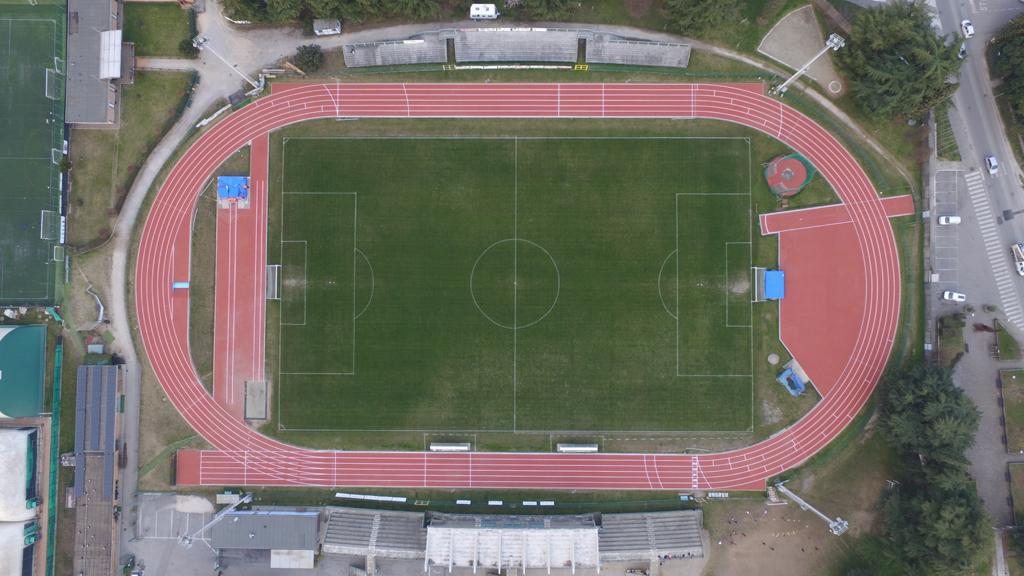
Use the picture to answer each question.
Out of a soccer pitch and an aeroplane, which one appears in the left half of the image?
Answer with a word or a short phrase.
soccer pitch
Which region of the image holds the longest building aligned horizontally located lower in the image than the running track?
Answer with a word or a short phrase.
bottom left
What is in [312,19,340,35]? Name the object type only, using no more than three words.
vehicle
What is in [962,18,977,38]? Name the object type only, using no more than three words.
car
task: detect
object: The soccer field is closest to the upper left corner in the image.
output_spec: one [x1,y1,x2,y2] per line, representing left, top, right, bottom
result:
[0,8,69,305]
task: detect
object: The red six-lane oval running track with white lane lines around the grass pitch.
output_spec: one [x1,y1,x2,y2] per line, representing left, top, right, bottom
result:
[135,83,901,491]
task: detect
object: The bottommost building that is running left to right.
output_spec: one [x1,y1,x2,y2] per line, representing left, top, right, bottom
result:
[212,508,323,548]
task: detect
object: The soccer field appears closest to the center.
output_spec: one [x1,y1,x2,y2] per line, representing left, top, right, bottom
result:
[278,137,754,452]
